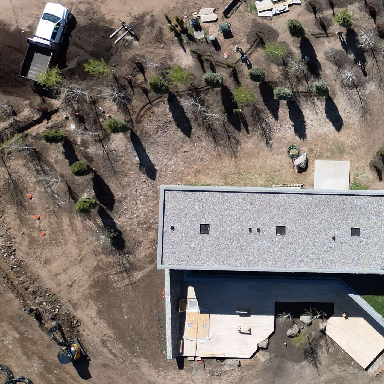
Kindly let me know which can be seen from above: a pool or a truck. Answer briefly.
truck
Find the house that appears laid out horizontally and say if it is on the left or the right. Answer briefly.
right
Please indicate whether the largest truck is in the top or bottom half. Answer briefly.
top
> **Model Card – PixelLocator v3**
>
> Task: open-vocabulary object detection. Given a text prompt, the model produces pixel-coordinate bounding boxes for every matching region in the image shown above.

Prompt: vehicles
[17,2,73,83]
[53,326,96,374]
